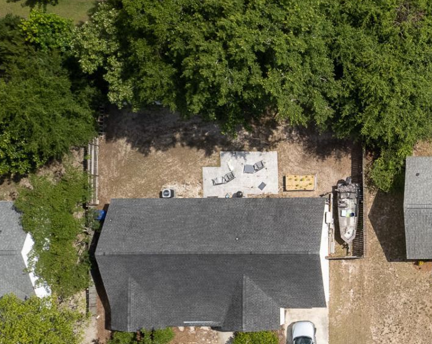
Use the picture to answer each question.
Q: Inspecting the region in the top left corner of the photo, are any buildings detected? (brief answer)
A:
No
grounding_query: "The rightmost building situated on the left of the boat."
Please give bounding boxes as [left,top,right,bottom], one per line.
[95,197,329,333]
